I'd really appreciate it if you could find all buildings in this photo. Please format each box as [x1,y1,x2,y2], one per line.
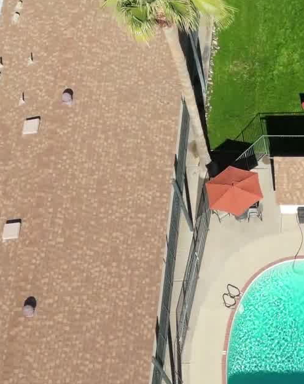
[0,0,210,384]
[271,155,304,214]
